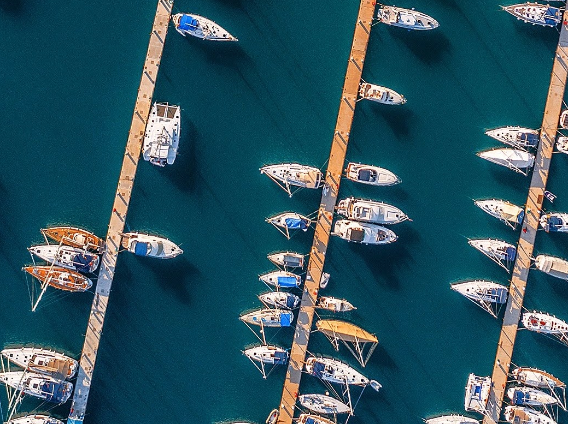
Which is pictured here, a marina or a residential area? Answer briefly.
marina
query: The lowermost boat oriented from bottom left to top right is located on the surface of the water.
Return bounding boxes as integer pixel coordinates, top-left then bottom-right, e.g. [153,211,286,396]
[265,409,278,424]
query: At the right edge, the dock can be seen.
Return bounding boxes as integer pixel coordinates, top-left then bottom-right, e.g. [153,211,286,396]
[483,2,568,424]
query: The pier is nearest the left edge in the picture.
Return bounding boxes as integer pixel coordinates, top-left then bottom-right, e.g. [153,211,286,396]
[72,0,174,424]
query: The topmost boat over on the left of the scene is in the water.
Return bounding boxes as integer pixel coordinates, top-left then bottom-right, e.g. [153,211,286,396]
[163,6,239,42]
